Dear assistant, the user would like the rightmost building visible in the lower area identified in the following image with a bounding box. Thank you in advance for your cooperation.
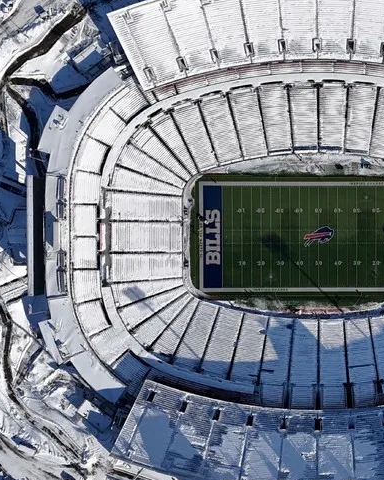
[78,398,114,426]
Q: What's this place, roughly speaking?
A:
sports ground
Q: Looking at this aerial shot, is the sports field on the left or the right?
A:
right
